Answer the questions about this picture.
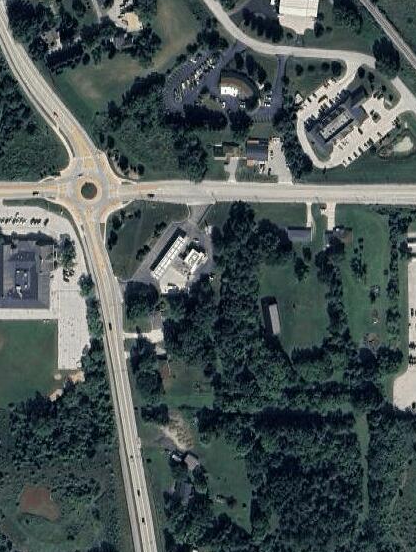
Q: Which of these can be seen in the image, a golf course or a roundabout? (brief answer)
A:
roundabout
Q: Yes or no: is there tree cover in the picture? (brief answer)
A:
Yes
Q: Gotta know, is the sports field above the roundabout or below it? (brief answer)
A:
below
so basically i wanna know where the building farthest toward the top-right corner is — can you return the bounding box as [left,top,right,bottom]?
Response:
[278,0,318,18]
